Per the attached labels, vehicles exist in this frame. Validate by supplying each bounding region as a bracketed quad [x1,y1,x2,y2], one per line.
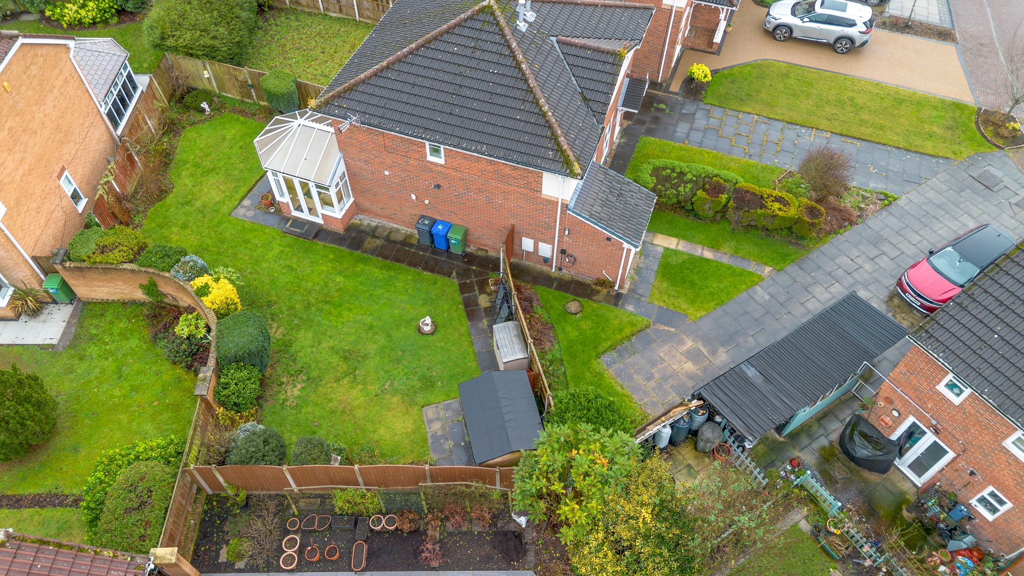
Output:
[895,220,1019,315]
[763,0,879,54]
[869,0,899,7]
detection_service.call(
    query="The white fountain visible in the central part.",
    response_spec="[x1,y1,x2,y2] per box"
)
[417,313,433,333]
